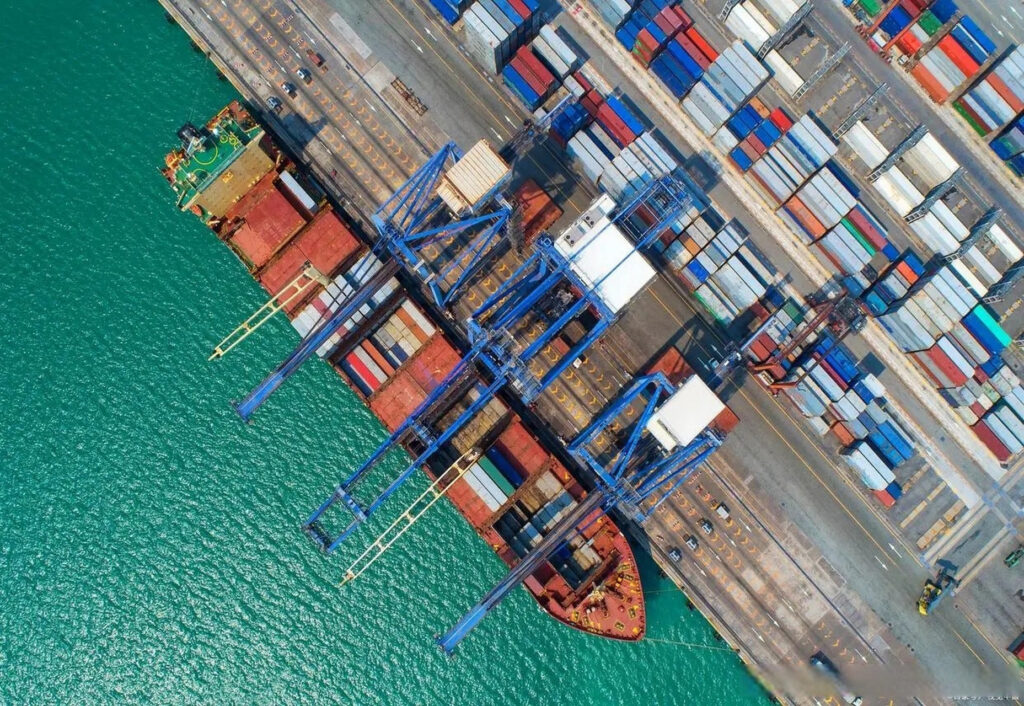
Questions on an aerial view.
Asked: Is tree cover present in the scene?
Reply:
No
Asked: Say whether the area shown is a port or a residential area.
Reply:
port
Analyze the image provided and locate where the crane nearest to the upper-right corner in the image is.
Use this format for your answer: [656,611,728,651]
[860,0,951,57]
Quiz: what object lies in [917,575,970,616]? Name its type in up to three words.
work vehicle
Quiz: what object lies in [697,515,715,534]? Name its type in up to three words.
vehicle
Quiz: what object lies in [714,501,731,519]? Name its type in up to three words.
vehicle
